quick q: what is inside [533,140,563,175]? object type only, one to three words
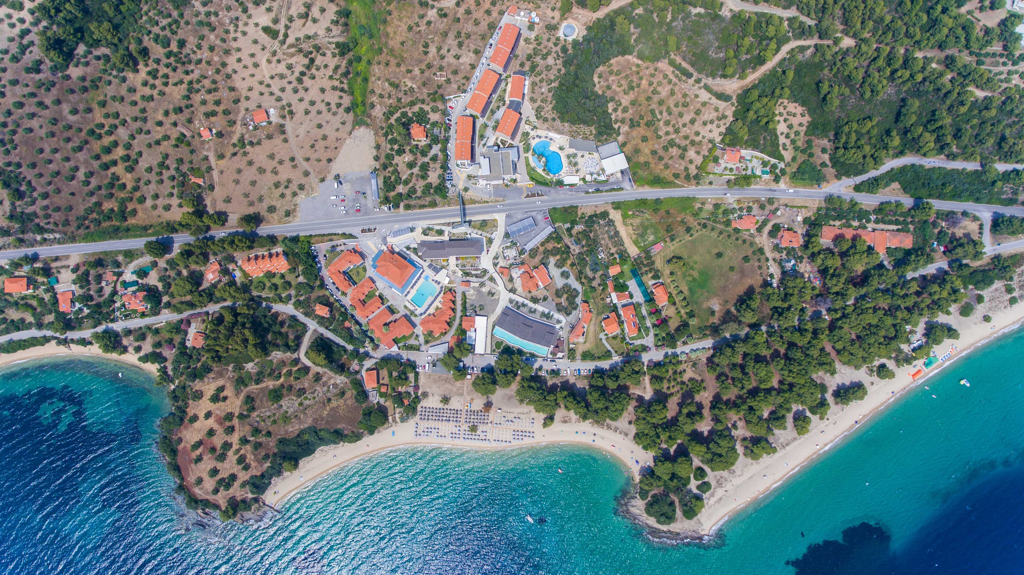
swimming pool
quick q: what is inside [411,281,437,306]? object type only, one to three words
swimming pool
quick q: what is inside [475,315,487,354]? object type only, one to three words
building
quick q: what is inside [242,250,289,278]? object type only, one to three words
house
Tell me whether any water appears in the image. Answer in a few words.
Yes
